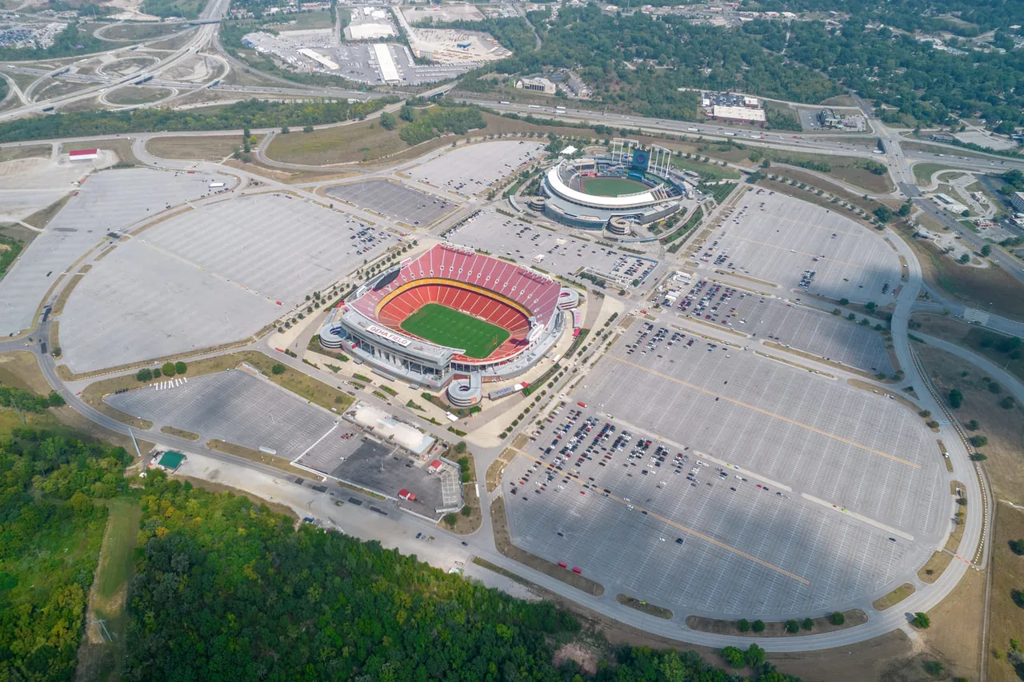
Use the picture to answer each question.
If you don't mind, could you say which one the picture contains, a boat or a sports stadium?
sports stadium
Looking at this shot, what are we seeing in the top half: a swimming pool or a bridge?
bridge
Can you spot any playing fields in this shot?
Yes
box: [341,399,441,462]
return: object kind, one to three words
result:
building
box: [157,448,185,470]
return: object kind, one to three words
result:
shed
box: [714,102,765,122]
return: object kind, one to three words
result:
building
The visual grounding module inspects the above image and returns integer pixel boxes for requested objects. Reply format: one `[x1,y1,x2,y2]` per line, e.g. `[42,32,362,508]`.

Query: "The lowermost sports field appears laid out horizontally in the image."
[400,303,511,358]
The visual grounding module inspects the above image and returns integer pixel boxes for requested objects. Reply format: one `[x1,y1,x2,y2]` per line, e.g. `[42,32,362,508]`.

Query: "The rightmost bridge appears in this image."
[870,120,910,170]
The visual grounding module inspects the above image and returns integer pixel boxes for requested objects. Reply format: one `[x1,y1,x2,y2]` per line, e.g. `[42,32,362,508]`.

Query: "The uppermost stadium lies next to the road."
[527,145,698,230]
